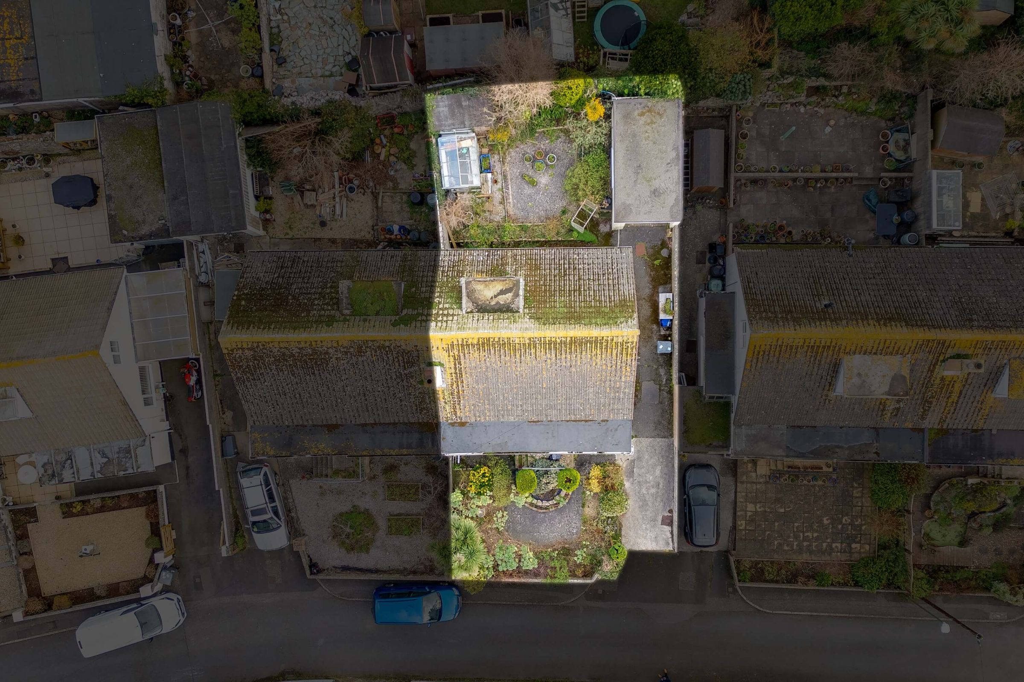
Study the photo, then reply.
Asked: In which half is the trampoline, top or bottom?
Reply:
top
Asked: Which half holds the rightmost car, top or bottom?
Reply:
bottom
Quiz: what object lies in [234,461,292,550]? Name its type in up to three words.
car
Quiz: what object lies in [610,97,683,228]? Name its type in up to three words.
building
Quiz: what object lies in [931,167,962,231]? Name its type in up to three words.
greenhouse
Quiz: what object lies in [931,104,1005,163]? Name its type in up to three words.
shed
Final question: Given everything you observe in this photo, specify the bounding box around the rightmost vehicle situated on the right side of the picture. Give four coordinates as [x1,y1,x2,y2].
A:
[679,463,728,548]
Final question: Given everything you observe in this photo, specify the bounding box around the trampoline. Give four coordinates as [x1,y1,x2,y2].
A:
[594,0,653,55]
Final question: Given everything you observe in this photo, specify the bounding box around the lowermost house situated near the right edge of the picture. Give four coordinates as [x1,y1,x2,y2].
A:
[723,237,1024,467]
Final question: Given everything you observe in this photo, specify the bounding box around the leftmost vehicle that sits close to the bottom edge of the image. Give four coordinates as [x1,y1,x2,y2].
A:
[74,589,191,663]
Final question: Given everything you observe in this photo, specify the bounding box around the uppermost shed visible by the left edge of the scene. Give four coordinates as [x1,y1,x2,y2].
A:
[0,0,172,118]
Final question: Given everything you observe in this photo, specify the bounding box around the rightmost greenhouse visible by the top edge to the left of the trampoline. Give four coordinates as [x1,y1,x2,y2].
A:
[528,0,575,70]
